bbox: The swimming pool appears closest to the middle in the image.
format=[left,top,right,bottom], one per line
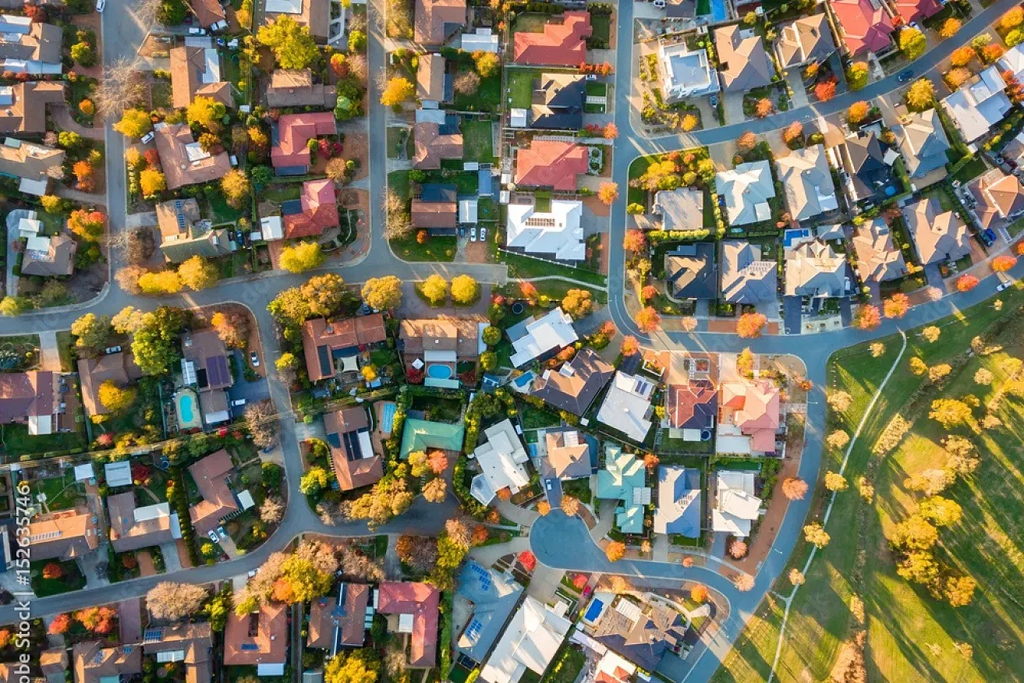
[511,370,536,395]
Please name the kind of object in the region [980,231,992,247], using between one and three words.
vehicle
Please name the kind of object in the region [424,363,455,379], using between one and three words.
swimming pool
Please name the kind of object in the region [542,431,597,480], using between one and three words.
house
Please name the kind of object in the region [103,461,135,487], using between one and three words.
shed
